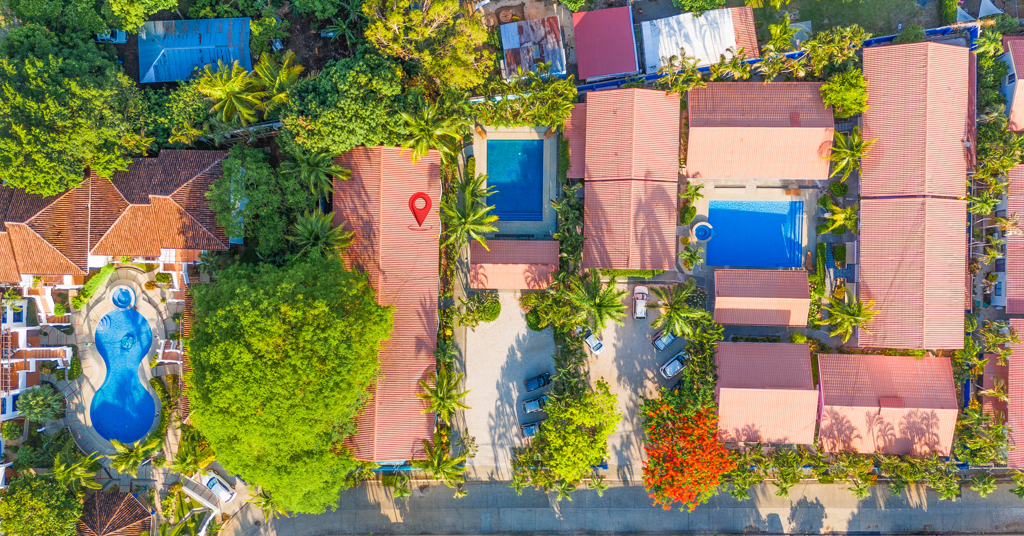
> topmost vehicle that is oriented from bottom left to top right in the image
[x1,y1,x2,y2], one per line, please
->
[650,325,685,354]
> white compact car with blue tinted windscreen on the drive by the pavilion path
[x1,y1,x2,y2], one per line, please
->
[204,470,241,504]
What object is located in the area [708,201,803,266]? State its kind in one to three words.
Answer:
swimming pool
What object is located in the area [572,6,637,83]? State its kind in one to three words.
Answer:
house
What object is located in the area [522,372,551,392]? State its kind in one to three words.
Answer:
car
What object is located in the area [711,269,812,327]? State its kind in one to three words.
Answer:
shed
